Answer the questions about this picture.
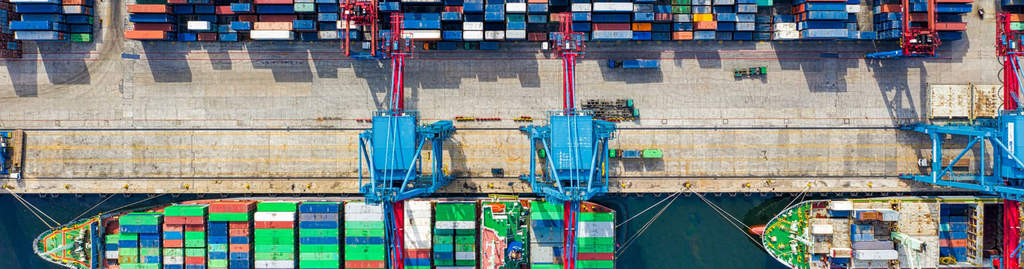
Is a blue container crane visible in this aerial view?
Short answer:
Yes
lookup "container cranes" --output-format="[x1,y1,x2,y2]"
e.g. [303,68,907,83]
[863,0,938,59]
[898,12,1024,269]
[353,12,458,269]
[517,12,617,269]
[340,0,390,59]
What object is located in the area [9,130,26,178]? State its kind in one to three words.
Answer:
vehicle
